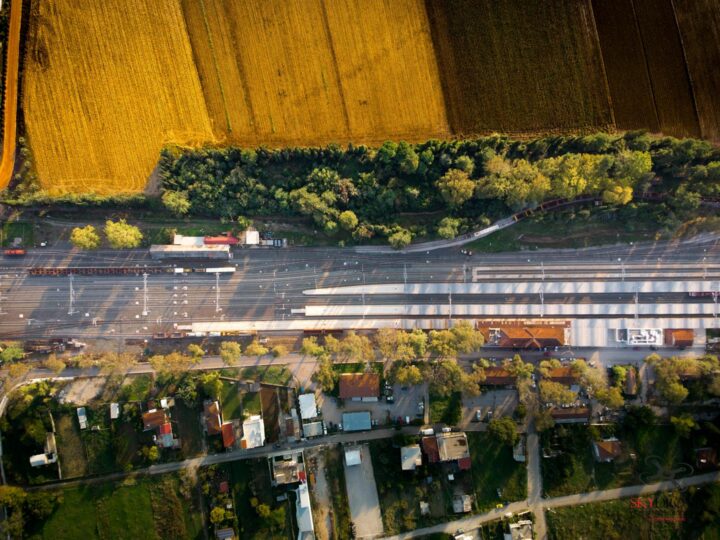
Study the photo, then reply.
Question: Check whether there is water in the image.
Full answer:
No, no water is visible.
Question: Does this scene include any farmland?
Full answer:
Yes, there's farmland in this view.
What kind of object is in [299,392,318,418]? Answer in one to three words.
building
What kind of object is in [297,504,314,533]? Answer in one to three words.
building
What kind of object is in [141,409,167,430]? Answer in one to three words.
house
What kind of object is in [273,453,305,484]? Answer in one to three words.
house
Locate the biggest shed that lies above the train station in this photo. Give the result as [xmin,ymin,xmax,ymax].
[149,245,233,259]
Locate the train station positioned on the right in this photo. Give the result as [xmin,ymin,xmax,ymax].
[176,266,720,347]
